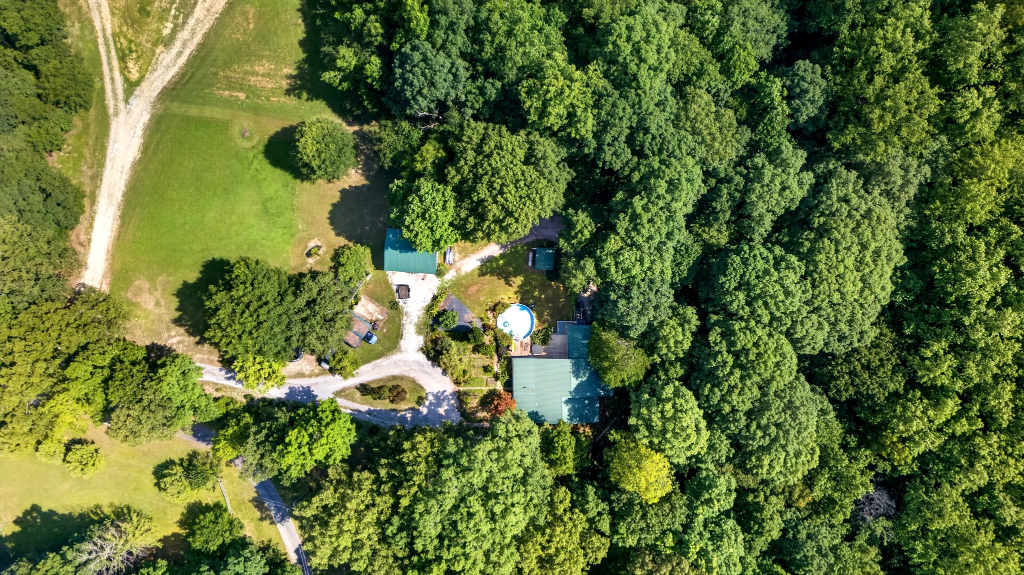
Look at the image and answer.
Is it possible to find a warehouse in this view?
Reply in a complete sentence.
No, no warehouse can be seen from above.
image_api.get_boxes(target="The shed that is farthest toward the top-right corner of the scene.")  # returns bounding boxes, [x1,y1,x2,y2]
[534,247,554,270]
